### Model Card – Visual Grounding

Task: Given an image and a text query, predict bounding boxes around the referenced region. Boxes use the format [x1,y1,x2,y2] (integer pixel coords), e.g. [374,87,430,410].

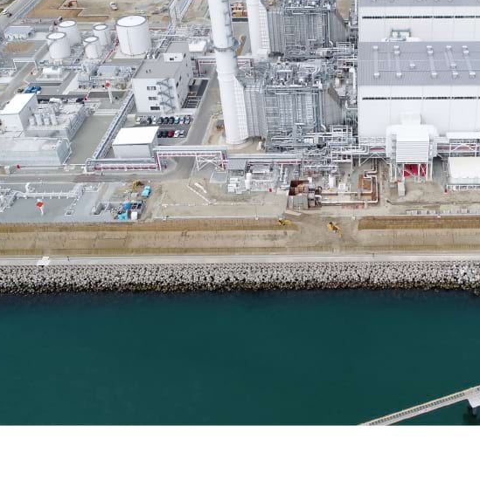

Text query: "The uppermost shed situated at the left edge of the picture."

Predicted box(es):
[2,26,40,40]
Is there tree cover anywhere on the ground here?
No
